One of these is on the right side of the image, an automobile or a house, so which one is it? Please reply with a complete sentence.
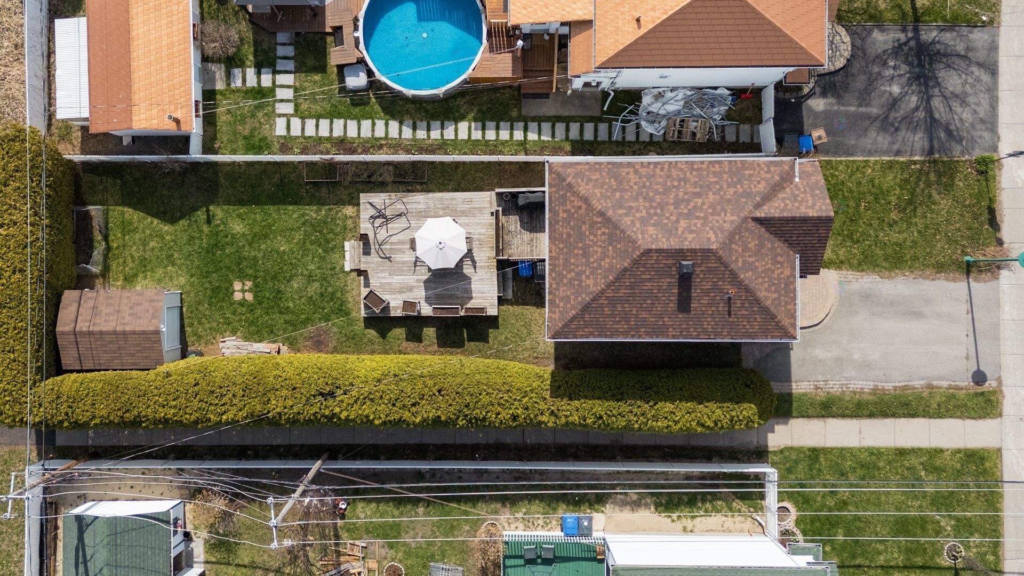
The one visible on the right side of the image is a house.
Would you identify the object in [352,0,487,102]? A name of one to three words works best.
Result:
swimming pool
